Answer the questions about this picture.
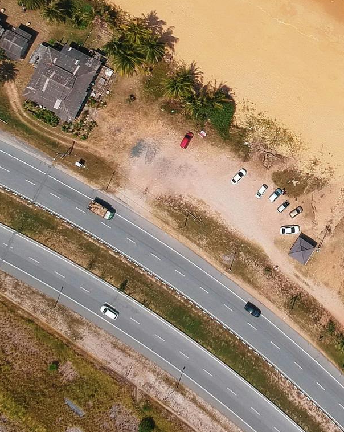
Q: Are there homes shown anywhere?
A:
Yes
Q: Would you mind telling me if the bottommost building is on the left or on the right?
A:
right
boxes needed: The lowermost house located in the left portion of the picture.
[23,44,108,122]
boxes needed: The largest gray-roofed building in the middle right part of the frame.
[288,234,318,264]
